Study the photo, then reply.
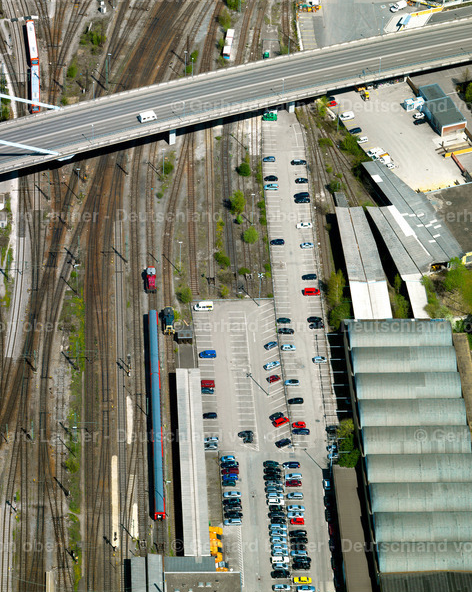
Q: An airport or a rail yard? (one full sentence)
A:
This looks like a rail yard.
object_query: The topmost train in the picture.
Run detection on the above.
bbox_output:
[27,19,40,112]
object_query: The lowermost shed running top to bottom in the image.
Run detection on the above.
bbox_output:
[331,465,375,592]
